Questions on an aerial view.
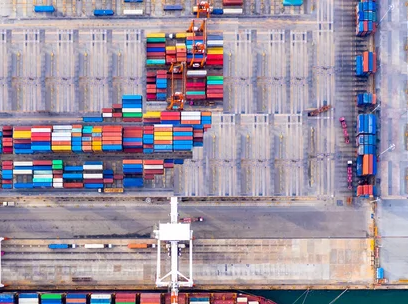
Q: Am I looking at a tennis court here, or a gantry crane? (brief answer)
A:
gantry crane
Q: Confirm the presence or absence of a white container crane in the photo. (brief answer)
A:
Yes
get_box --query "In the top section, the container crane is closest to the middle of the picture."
[164,62,188,107]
